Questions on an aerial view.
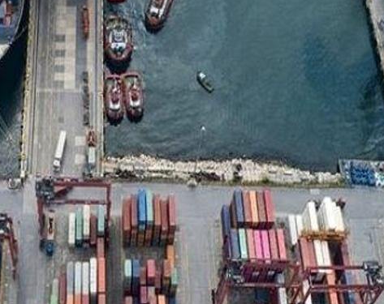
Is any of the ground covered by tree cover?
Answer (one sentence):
No, tree cover can't be seen anywhere here.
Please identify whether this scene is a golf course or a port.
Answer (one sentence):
It's a port.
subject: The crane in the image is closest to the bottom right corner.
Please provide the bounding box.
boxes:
[288,261,384,304]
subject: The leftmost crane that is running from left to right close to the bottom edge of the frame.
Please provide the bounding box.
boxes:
[211,260,309,304]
